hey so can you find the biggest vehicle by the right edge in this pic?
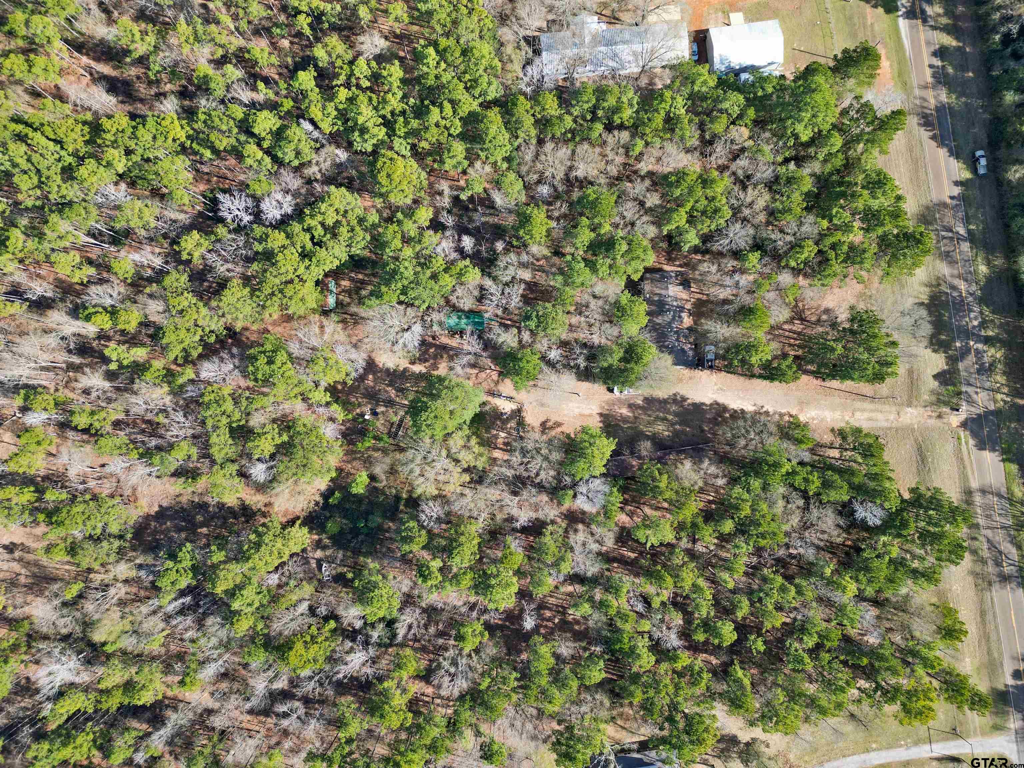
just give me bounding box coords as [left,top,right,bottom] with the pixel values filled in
[974,146,990,173]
